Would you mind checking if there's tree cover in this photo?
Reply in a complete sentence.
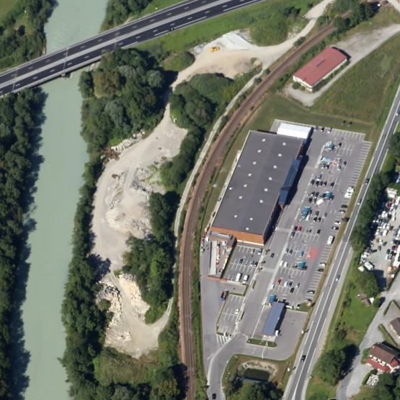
Yes, some tree cover is visible.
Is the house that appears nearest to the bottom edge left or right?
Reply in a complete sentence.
You can find the house that appears nearest to the bottom edge on the right side of the picture.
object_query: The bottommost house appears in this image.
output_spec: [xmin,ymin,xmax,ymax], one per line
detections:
[368,342,400,376]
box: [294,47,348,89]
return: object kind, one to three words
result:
building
